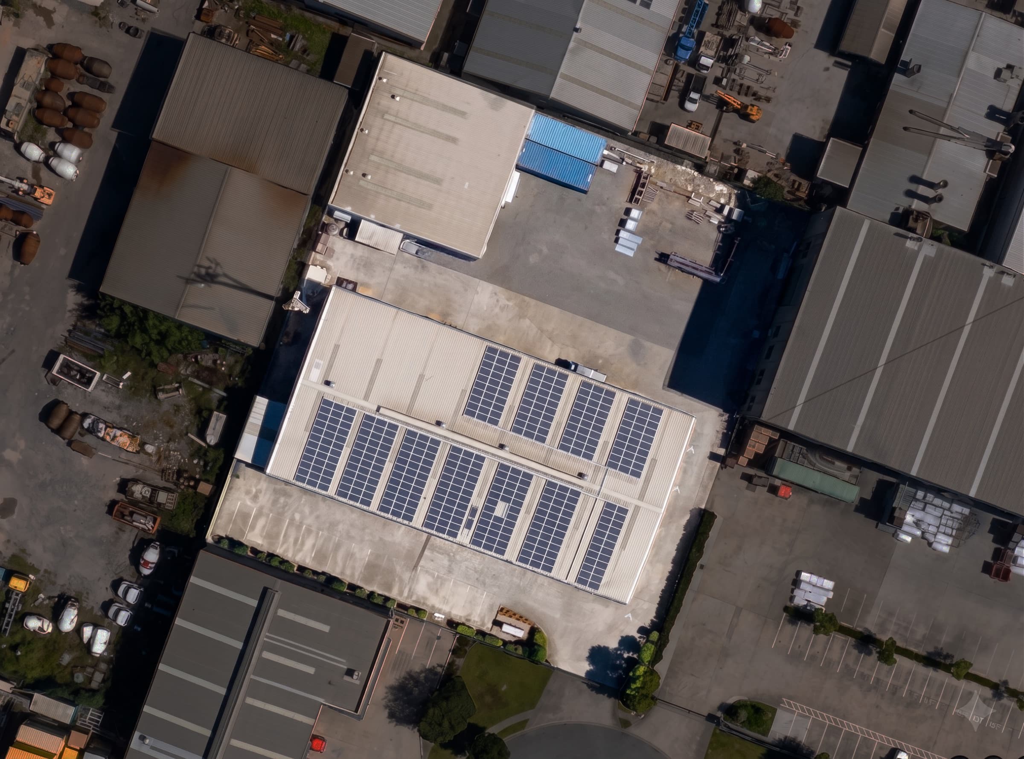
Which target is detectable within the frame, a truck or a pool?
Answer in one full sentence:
The image shows a truck.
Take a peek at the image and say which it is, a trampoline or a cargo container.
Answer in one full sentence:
There is a cargo container in the scene.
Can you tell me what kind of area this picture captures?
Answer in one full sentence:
This image shows an industrial area.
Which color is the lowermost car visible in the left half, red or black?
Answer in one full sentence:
The lowermost car visible in the left half is red.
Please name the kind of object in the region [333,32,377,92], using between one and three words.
shed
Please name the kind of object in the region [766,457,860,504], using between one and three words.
shipping container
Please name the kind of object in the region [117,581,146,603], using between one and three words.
car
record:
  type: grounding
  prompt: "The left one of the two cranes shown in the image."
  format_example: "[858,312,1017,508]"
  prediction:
[0,172,66,212]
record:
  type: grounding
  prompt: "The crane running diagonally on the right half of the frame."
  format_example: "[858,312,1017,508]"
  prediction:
[715,89,765,131]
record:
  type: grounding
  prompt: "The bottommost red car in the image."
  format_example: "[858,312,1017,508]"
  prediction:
[308,732,334,753]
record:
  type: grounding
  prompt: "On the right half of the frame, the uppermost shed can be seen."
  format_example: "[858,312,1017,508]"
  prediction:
[833,0,908,69]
